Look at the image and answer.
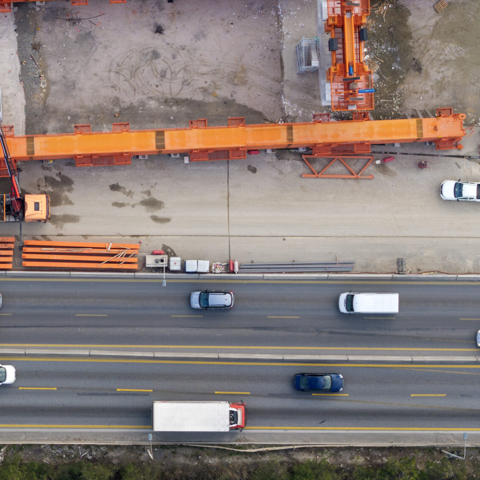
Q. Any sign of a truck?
Yes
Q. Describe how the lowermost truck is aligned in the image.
horizontally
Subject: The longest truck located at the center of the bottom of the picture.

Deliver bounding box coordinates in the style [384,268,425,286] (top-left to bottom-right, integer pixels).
[152,402,246,435]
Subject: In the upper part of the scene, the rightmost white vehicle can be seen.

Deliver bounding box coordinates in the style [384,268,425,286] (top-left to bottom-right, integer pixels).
[439,179,480,202]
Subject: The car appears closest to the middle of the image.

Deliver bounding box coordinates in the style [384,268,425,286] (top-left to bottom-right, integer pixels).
[191,288,235,312]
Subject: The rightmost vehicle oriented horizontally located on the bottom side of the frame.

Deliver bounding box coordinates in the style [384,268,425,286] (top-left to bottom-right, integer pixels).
[337,291,400,316]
